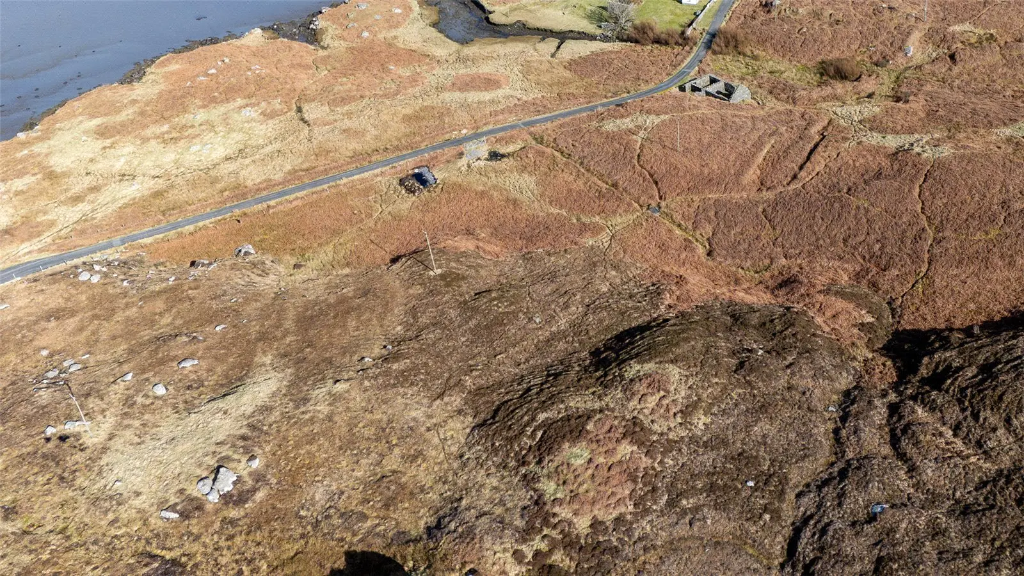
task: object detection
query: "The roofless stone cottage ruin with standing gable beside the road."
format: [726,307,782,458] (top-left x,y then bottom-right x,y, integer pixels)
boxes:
[679,75,751,106]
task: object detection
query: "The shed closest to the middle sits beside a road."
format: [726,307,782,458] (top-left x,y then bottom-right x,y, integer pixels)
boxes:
[403,164,439,194]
